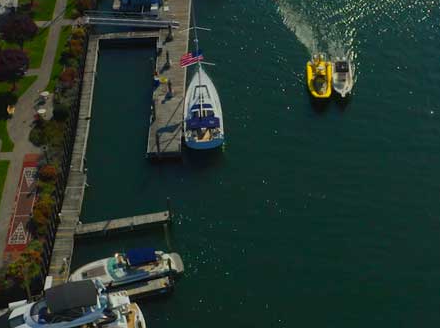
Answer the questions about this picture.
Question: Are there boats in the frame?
Yes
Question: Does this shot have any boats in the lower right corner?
No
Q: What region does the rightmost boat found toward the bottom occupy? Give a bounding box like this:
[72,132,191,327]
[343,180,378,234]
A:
[76,240,186,288]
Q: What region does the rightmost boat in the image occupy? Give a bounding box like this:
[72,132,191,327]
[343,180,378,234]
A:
[331,55,356,98]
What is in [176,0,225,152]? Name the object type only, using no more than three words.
boat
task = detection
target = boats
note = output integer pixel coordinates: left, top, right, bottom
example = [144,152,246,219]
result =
[176,0,225,152]
[76,240,186,288]
[331,55,356,98]
[0,273,147,328]
[305,46,332,100]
